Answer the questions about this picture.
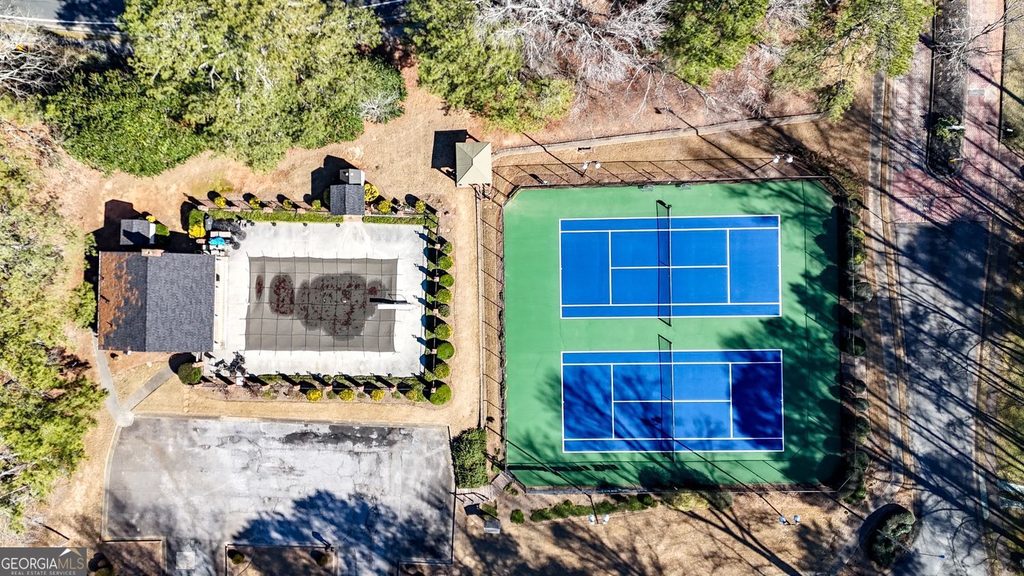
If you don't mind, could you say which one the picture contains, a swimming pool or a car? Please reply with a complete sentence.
There is a swimming pool in the scene.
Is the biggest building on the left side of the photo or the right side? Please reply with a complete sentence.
It is on the left.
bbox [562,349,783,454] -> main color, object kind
blue tennis court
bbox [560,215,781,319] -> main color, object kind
blue tennis court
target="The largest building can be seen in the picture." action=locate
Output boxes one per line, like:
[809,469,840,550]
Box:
[99,246,235,358]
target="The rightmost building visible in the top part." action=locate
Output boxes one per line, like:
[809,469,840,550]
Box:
[456,142,492,188]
